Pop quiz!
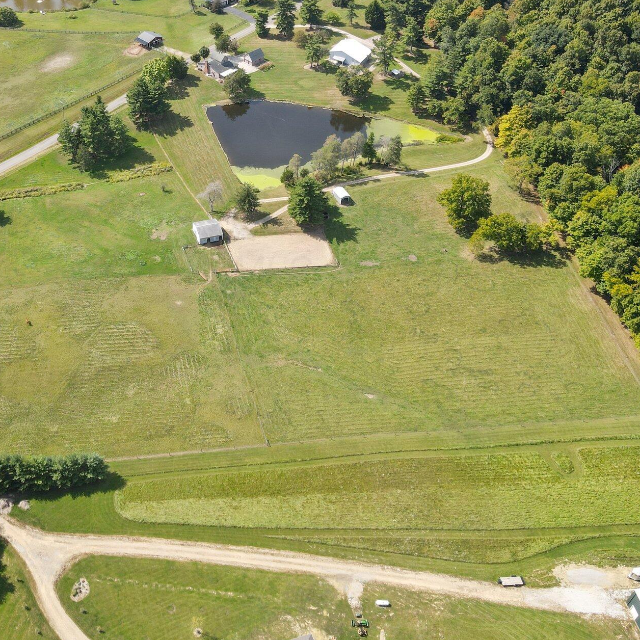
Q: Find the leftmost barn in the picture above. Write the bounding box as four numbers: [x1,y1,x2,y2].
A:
[131,33,162,50]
